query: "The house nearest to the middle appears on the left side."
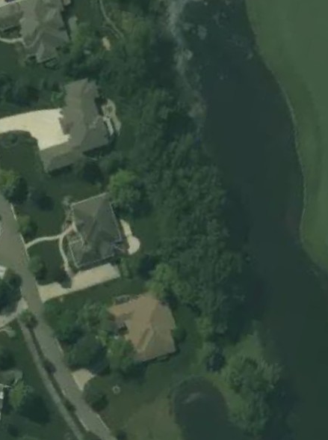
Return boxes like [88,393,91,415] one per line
[69,193,127,271]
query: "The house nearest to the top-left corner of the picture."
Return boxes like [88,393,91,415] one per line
[0,0,74,63]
